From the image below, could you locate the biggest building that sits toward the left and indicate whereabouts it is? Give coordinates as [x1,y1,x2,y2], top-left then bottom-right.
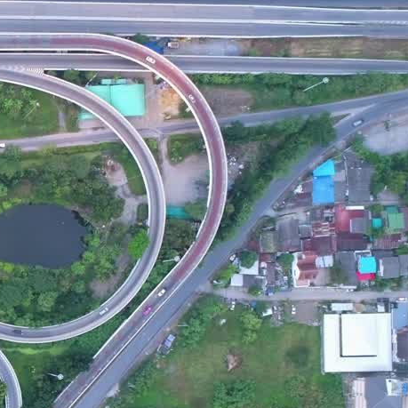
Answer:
[84,84,145,117]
